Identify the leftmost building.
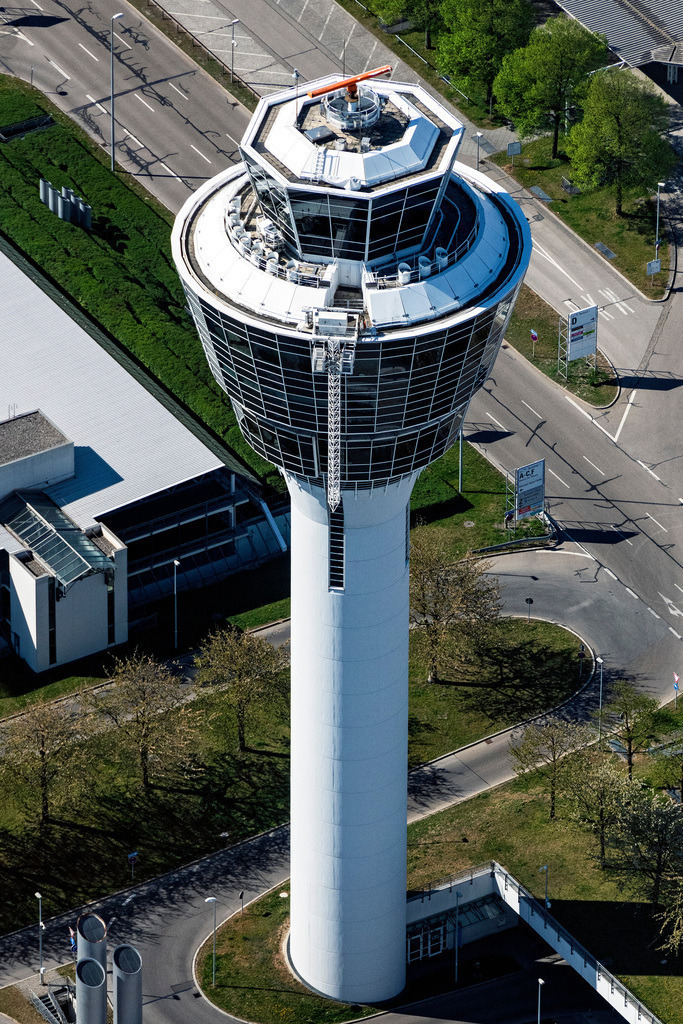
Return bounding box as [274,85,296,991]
[0,230,288,662]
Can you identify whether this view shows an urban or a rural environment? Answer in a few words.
urban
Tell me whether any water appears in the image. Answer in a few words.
No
